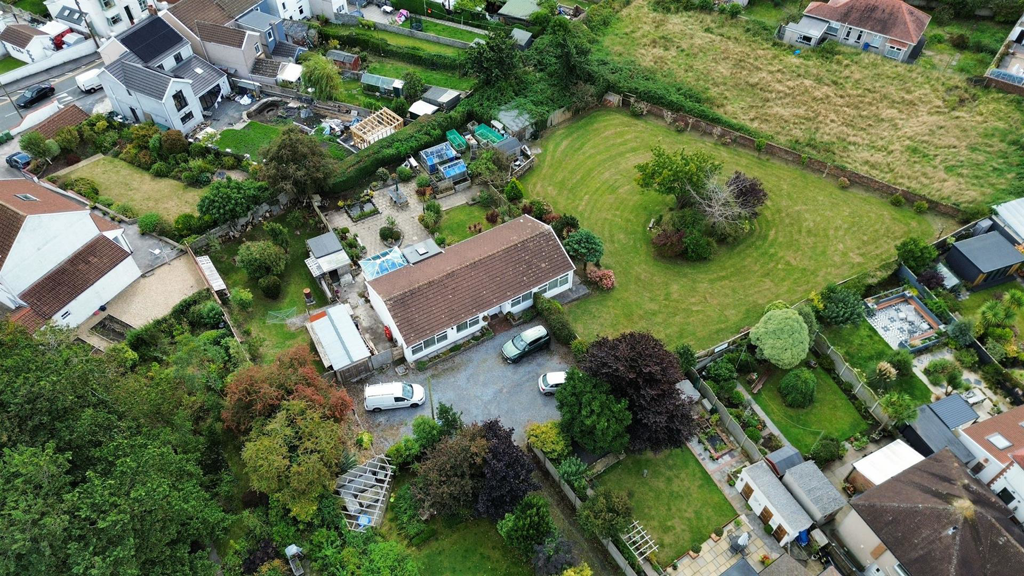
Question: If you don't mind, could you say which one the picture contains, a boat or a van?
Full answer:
There is a van in the scene.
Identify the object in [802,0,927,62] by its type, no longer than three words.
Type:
house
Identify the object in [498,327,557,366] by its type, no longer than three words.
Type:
car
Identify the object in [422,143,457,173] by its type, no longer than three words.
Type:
greenhouse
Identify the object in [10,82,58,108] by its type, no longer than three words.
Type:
car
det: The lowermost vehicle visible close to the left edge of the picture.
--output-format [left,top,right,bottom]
[0,148,34,172]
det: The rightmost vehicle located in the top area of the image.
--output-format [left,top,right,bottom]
[69,65,102,92]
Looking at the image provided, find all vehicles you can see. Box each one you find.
[533,370,586,402]
[69,65,102,92]
[498,327,557,366]
[10,82,58,108]
[364,383,424,418]
[0,148,34,172]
